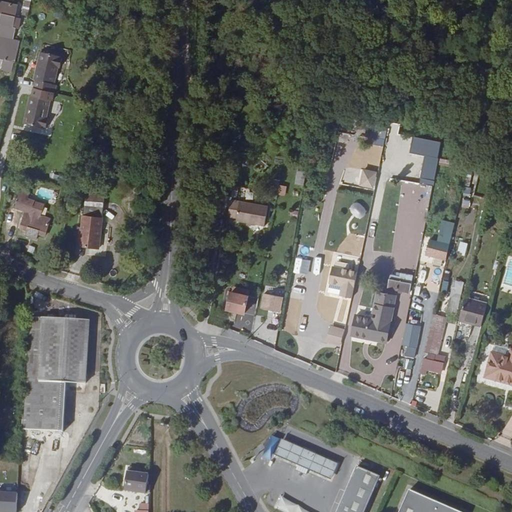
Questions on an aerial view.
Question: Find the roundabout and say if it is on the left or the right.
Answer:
left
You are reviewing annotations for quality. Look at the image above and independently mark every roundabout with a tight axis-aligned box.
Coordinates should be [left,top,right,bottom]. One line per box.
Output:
[118,316,203,400]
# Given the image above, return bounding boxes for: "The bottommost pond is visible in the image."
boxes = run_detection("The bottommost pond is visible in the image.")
[236,383,298,433]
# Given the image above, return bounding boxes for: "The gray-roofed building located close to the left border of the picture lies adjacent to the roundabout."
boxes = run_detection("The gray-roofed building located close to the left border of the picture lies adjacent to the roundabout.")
[23,317,90,432]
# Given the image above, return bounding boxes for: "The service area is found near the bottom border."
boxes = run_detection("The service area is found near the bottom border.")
[244,426,360,512]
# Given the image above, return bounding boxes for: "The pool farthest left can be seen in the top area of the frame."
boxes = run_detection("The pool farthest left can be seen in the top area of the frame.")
[36,186,57,204]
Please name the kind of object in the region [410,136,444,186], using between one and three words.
building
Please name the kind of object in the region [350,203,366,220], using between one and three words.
gazebo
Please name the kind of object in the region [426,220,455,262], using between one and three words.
house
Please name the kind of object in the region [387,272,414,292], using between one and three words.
shed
